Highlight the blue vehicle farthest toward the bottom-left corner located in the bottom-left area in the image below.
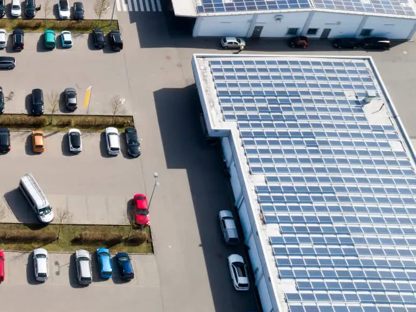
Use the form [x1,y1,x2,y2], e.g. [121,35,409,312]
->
[94,249,114,281]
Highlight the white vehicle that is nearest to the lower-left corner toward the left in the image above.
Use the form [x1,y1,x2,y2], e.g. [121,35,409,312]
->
[32,249,50,284]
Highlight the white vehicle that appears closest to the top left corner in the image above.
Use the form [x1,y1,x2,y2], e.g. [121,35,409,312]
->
[9,0,23,18]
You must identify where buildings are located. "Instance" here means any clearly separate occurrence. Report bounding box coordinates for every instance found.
[189,55,416,312]
[171,0,416,40]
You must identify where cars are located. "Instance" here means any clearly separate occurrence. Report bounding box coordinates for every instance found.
[104,128,121,157]
[94,249,114,281]
[0,88,6,112]
[114,249,137,286]
[331,36,363,50]
[124,129,142,157]
[0,127,12,154]
[221,36,246,50]
[0,30,8,50]
[226,257,252,290]
[217,212,243,246]
[359,36,392,51]
[131,195,151,226]
[67,130,83,154]
[30,88,45,116]
[60,30,73,50]
[73,0,87,22]
[0,56,18,71]
[90,30,106,51]
[11,30,25,52]
[64,89,78,112]
[56,0,72,21]
[30,129,45,154]
[32,249,50,284]
[286,36,311,51]
[23,0,42,19]
[74,251,93,287]
[0,0,7,18]
[9,0,23,18]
